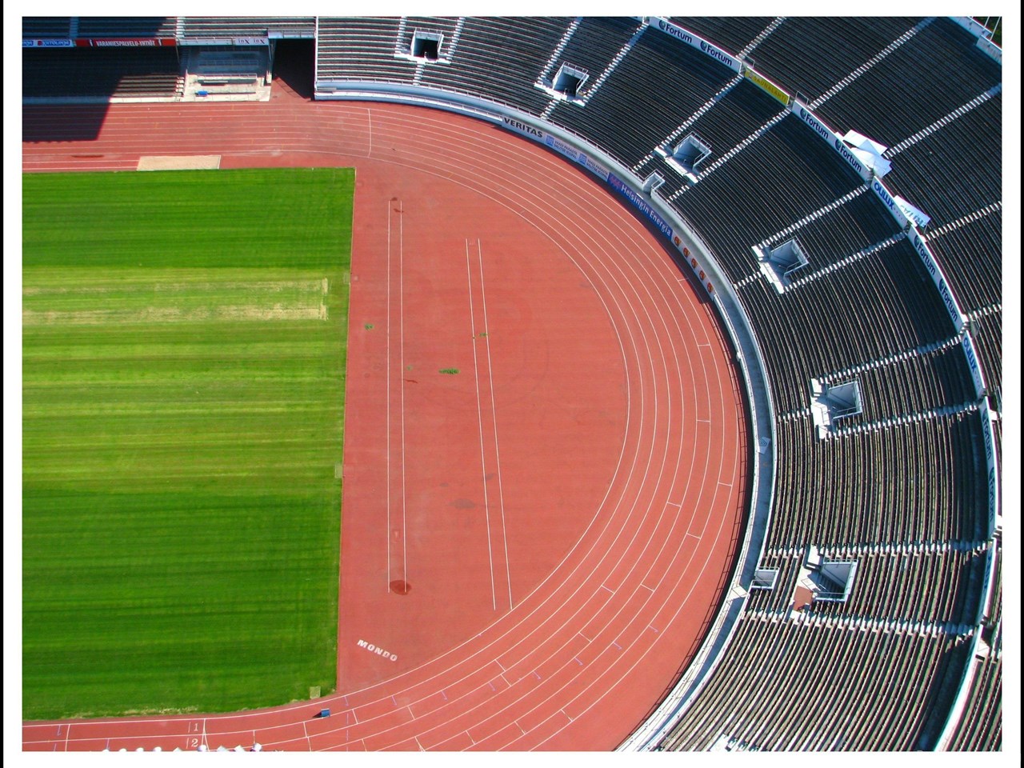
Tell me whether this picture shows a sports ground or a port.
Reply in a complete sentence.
What you see here is a sports ground.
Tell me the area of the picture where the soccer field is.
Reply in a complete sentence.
The soccer field is located in the left region of the scene.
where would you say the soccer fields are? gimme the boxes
[0,168,356,724]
